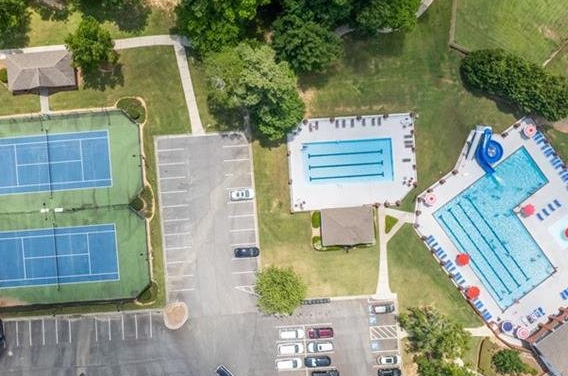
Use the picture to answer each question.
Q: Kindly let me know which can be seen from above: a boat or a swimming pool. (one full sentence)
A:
There is a swimming pool in the scene.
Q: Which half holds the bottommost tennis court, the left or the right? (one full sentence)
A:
The bottommost tennis court is on the left side of the image.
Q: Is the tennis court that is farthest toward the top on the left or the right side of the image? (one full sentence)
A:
The tennis court that is farthest toward the top appears in the left half of the scene.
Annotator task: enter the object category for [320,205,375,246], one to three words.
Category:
building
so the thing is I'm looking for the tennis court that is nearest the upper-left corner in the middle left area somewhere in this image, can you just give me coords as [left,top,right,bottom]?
[0,110,143,214]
